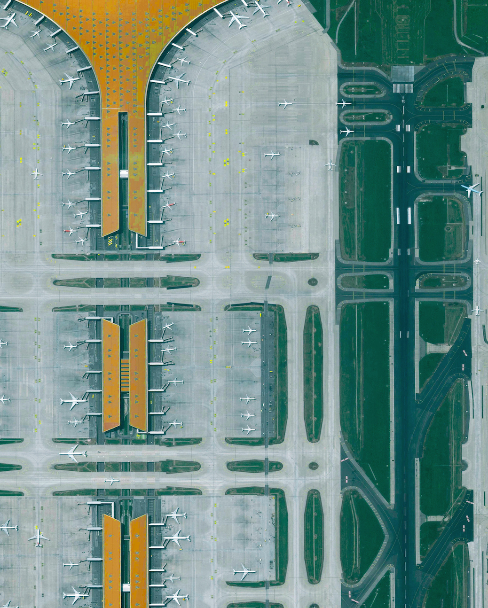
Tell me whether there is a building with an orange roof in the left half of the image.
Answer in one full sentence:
Yes, you'll find a building with an orange roof in the left half of the image.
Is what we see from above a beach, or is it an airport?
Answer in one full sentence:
This image shows an airport.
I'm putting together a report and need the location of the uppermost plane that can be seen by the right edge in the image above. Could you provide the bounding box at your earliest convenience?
[462,182,483,198]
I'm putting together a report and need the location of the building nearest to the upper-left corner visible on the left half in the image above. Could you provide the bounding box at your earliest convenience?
[17,0,226,237]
